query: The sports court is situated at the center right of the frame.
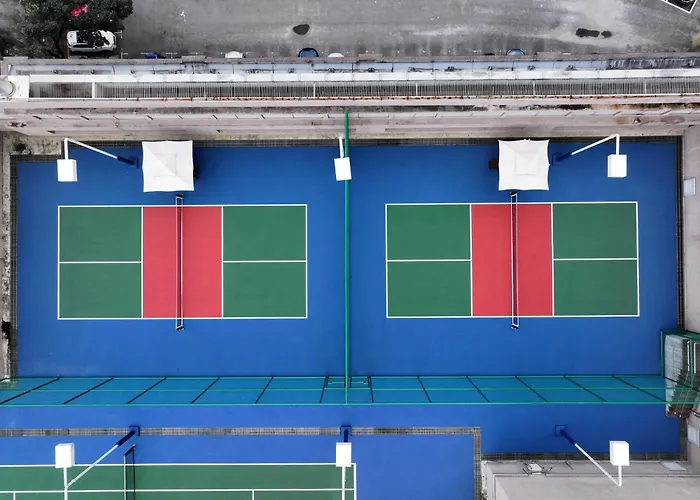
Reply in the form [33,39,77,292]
[348,144,677,377]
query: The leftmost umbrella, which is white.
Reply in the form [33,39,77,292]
[142,140,196,194]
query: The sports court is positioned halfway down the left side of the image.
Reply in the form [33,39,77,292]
[17,146,346,380]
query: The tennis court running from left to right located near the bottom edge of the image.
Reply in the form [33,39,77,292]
[0,434,475,500]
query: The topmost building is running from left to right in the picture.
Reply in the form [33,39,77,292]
[0,52,700,141]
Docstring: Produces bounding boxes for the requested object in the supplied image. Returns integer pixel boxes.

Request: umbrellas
[496,139,550,192]
[142,140,196,194]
